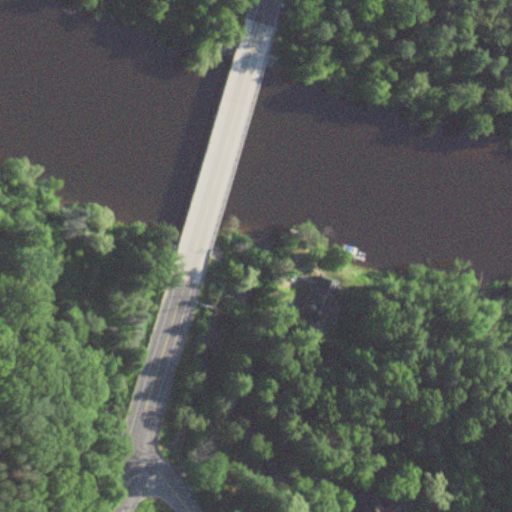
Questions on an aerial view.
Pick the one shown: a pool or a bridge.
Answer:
bridge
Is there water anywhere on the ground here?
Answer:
Yes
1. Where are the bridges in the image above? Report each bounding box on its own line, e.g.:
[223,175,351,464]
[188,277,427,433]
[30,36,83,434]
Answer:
[173,20,278,290]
